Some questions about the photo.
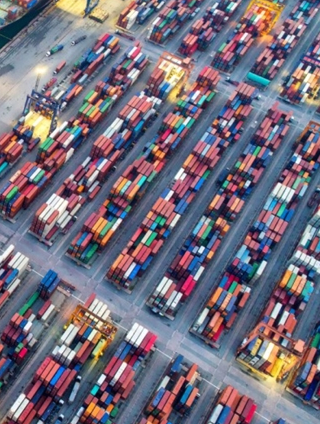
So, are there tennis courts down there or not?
No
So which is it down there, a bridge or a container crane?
container crane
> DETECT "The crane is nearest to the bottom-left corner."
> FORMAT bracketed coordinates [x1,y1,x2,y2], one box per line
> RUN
[60,300,122,358]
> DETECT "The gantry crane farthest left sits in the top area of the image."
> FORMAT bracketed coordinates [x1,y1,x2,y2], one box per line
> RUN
[21,88,65,130]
